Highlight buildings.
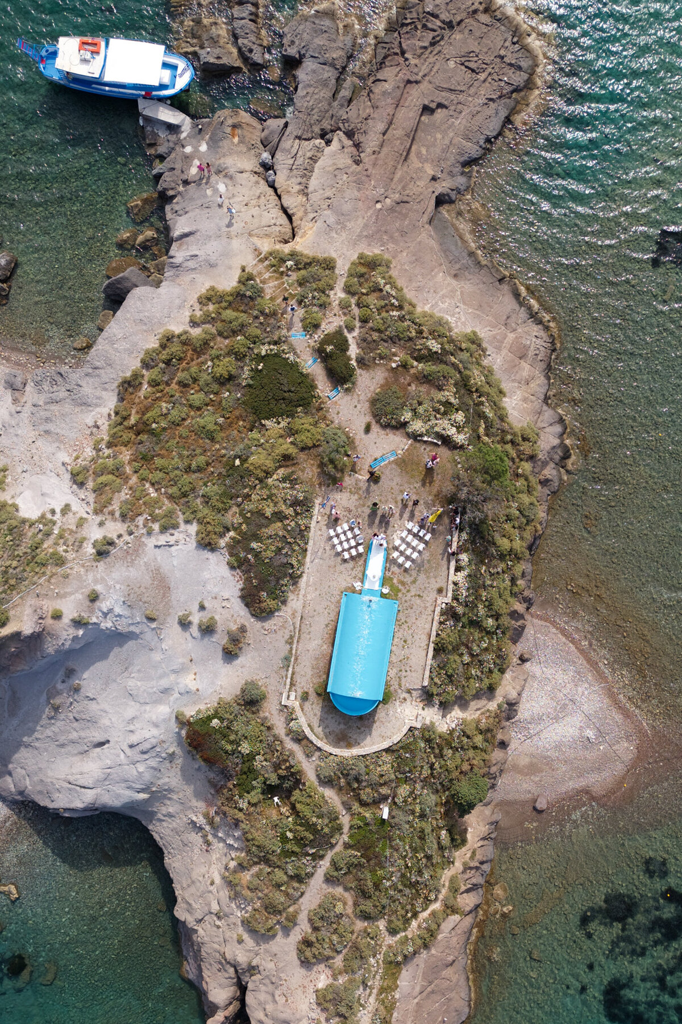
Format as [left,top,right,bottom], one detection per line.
[327,590,399,718]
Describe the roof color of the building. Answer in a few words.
blue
